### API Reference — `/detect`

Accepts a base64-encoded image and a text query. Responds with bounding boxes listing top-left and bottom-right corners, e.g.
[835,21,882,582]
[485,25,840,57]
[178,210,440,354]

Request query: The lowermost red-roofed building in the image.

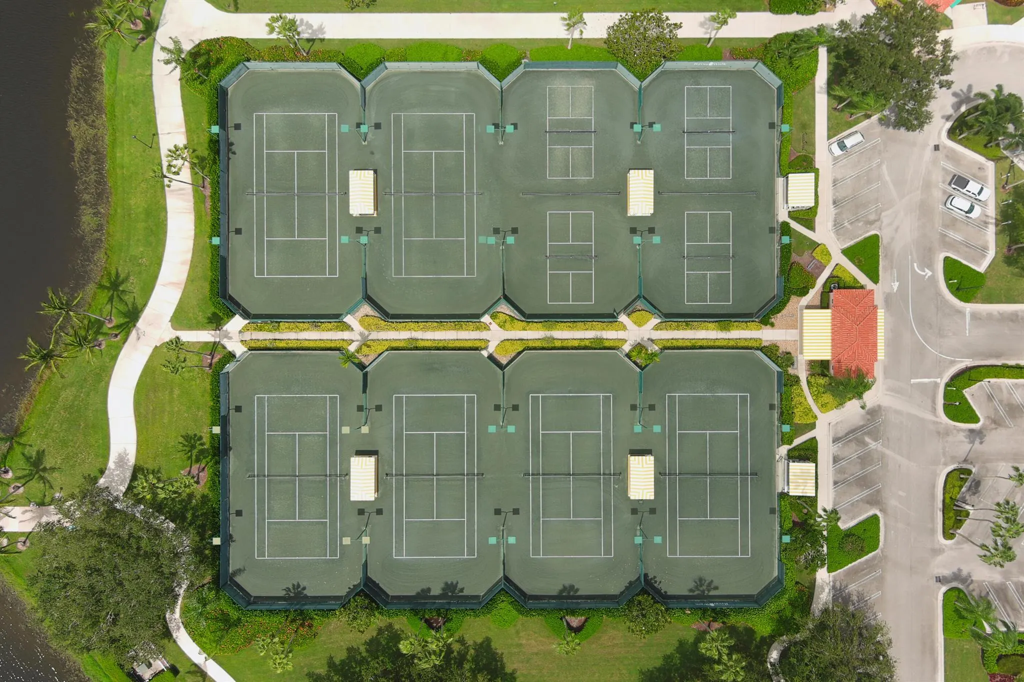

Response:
[796,289,884,379]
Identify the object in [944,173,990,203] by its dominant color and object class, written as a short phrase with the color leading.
white truck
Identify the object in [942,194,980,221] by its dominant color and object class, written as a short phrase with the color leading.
white car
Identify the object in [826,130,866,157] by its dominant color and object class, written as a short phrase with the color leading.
white car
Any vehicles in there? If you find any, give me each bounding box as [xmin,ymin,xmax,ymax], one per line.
[826,130,866,157]
[942,194,980,221]
[944,173,990,203]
